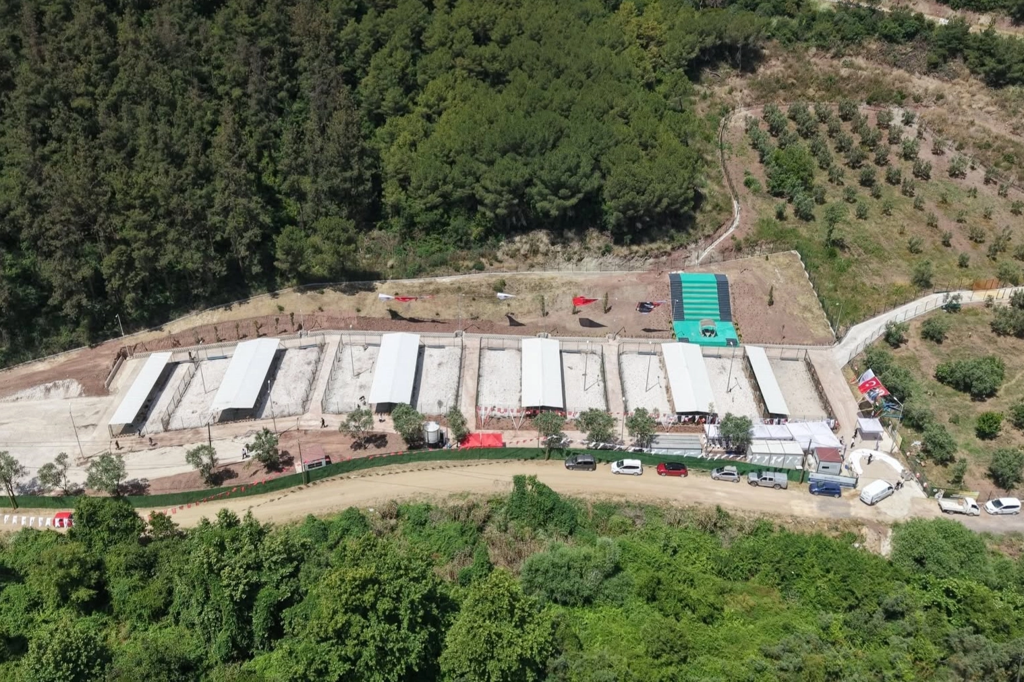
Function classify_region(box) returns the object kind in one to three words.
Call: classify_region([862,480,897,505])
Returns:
vehicle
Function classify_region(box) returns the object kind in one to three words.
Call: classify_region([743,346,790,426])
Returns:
shed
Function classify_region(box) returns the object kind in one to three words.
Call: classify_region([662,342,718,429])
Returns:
shed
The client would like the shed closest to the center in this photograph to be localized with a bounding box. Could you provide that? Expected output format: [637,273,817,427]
[522,337,563,423]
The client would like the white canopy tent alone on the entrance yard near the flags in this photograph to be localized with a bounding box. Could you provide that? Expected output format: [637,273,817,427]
[855,418,883,442]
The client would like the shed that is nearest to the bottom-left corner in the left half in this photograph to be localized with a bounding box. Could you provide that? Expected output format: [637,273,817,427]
[109,352,175,443]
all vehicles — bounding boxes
[610,459,643,476]
[565,453,597,471]
[862,480,897,505]
[983,498,1024,515]
[810,481,843,498]
[711,465,742,483]
[657,461,689,477]
[746,470,786,489]
[942,497,982,516]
